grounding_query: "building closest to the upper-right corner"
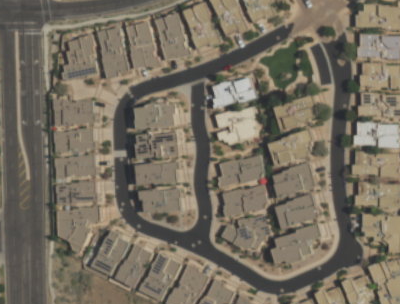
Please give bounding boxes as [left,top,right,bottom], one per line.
[356,4,400,30]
